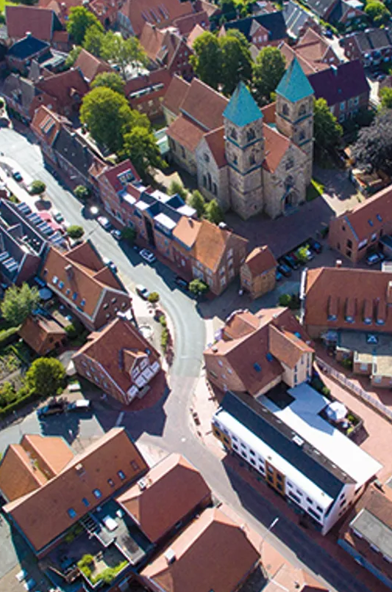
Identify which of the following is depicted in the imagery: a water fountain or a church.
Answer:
church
